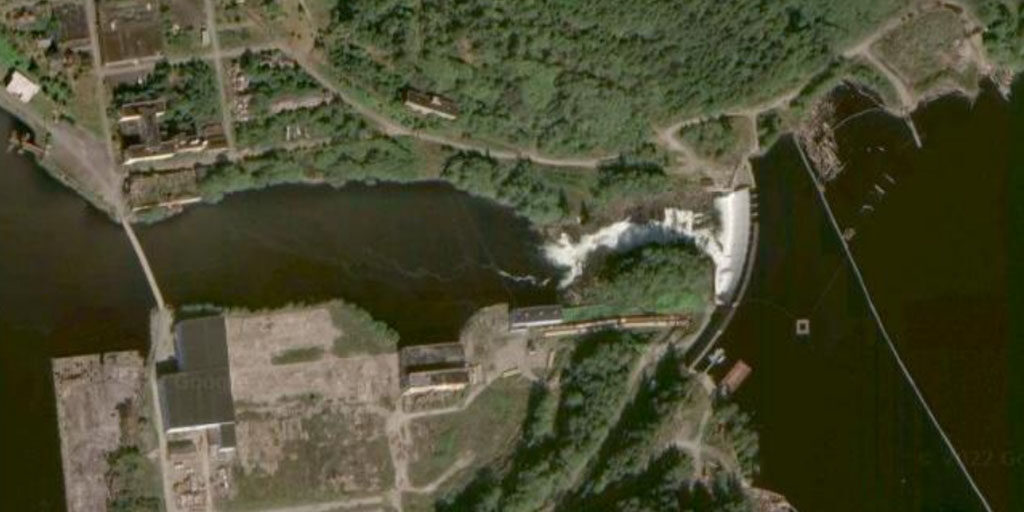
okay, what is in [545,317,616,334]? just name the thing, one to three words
shed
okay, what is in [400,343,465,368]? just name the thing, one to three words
building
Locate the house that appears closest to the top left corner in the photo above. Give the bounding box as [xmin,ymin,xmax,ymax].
[15,14,37,32]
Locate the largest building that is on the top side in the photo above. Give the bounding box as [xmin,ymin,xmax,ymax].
[120,99,229,163]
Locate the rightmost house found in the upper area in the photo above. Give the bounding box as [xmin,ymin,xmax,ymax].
[401,90,458,119]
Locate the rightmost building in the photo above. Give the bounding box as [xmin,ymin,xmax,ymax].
[720,360,752,395]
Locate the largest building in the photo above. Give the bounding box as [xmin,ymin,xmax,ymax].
[163,315,235,451]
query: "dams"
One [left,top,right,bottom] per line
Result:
[706,157,758,308]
